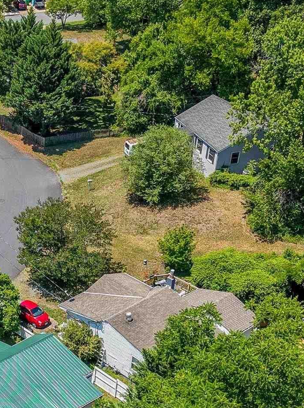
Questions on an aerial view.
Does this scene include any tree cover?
Yes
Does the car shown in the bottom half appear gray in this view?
No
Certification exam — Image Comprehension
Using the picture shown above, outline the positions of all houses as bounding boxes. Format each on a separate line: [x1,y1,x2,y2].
[0,332,102,408]
[59,262,255,385]
[175,93,275,171]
